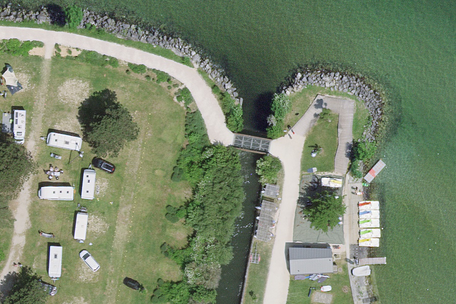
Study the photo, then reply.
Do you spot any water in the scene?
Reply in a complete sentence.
Yes, the picture does contain water.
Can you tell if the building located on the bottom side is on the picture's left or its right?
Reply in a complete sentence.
The building located on the bottom side appears in the right half of the scene.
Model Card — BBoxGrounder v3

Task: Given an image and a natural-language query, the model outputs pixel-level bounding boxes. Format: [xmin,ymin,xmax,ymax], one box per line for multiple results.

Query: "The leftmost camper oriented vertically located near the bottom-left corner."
[48,245,62,282]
